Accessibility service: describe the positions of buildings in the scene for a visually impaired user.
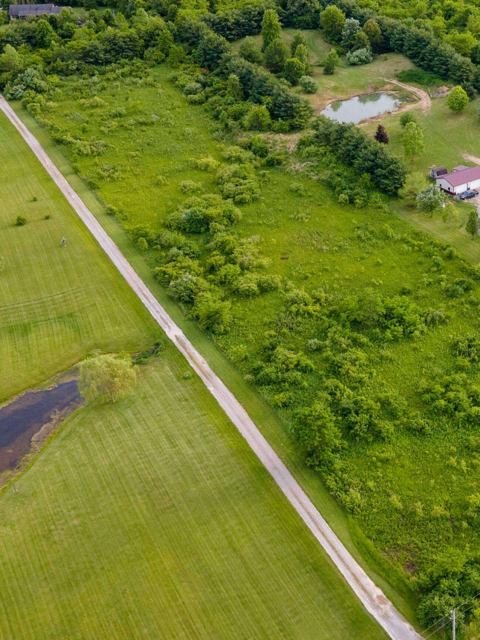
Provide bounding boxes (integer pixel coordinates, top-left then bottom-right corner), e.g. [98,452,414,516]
[438,166,480,195]
[7,5,80,23]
